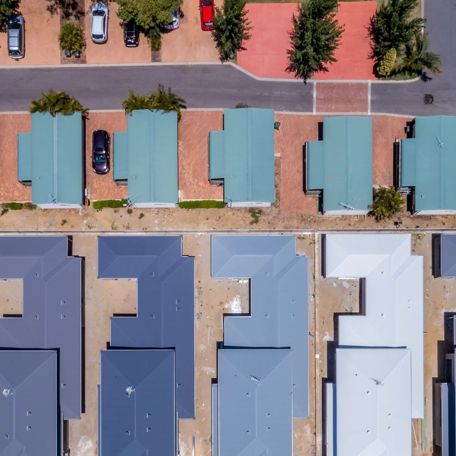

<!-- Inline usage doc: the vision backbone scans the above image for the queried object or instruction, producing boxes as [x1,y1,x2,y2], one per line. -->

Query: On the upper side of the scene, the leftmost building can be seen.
[17,111,83,208]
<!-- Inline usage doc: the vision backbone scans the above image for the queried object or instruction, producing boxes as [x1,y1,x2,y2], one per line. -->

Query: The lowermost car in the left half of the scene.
[90,129,111,175]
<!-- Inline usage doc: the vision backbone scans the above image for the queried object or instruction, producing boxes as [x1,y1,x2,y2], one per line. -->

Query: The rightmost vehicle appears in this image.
[198,0,217,33]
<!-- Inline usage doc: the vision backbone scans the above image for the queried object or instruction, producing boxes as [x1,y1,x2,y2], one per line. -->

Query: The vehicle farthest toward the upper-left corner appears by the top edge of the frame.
[7,13,26,63]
